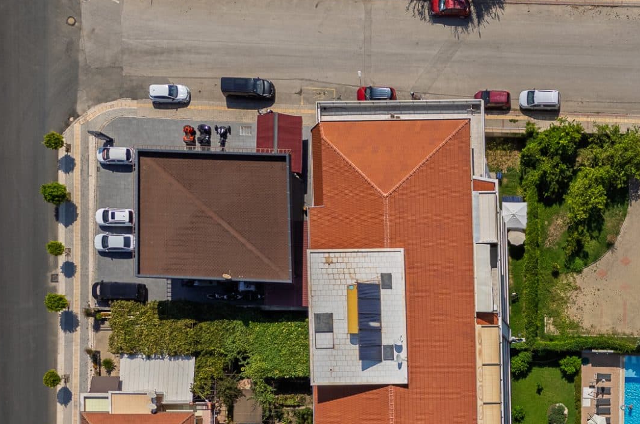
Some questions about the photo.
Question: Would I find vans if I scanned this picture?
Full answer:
Yes, the picture does show a van.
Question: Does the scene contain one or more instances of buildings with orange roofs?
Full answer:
Yes, a building with an orange roof is visible in the scene.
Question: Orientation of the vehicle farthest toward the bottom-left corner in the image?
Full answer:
Seen from above, the vehicle farthest toward the bottom-left corner lies from left to right.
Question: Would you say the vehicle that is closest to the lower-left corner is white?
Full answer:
No, from above the vehicle that is closest to the lower-left corner looks black.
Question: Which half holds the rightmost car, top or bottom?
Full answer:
Seen from above, the rightmost car lies in the top half of the view.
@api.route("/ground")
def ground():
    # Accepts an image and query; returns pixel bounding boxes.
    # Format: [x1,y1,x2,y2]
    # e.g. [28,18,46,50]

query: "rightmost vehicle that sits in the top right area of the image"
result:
[520,88,560,111]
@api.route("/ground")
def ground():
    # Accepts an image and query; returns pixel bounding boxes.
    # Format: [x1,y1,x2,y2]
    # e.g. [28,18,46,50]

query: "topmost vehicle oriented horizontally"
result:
[430,0,470,19]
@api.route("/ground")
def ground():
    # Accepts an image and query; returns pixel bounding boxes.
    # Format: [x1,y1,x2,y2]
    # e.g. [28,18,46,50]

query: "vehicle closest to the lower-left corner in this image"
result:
[94,280,147,303]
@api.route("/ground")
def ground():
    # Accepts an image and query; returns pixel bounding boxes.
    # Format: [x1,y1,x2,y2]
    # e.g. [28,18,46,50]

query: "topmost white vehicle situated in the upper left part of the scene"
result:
[150,81,192,104]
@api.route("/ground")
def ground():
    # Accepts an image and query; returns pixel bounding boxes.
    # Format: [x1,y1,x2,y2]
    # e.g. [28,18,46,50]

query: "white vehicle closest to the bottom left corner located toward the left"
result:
[95,232,136,253]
